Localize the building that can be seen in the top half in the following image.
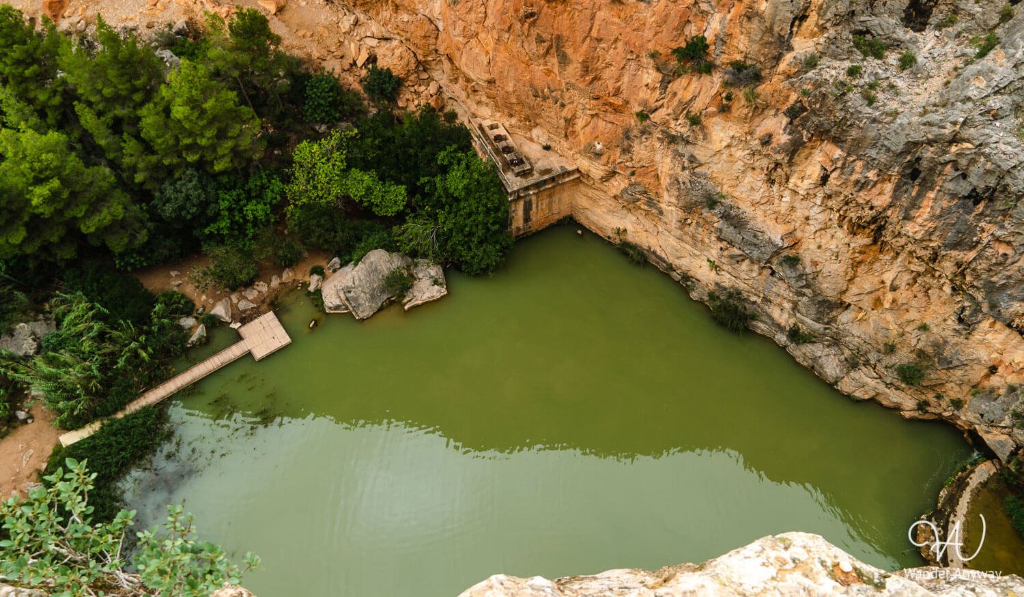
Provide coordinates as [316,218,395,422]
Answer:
[462,110,576,234]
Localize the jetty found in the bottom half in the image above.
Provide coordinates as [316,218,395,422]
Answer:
[61,311,292,446]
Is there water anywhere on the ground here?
Yes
